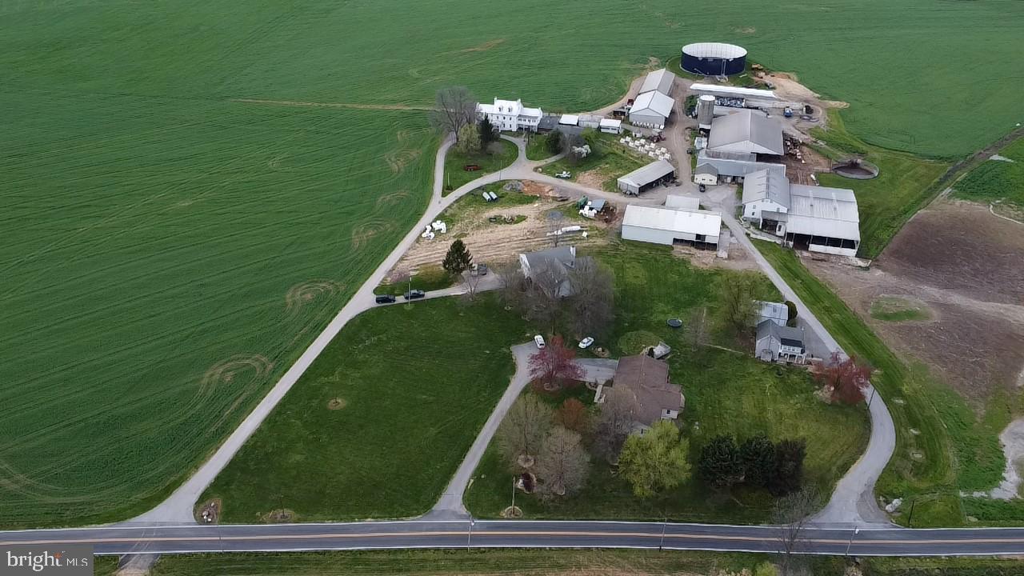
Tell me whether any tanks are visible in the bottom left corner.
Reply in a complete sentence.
No, I can find no tank in the bottom left corner.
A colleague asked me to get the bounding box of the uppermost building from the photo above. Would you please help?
[639,69,676,97]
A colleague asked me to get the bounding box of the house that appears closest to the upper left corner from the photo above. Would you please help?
[478,97,543,134]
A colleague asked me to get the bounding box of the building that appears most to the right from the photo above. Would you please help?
[784,183,862,256]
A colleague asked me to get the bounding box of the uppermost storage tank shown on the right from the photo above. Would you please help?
[679,42,750,77]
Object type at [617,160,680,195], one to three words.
shed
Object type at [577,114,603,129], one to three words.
shed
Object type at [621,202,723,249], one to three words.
building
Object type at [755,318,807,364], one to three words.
house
